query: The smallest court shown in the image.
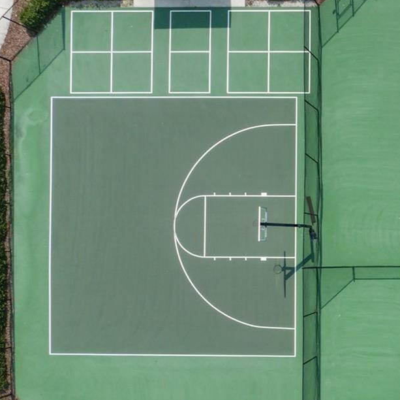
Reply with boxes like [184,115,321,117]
[168,10,211,94]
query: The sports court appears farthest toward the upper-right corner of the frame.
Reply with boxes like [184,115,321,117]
[227,10,310,94]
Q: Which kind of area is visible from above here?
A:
sports ground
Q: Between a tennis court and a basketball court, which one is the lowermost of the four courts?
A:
basketball court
